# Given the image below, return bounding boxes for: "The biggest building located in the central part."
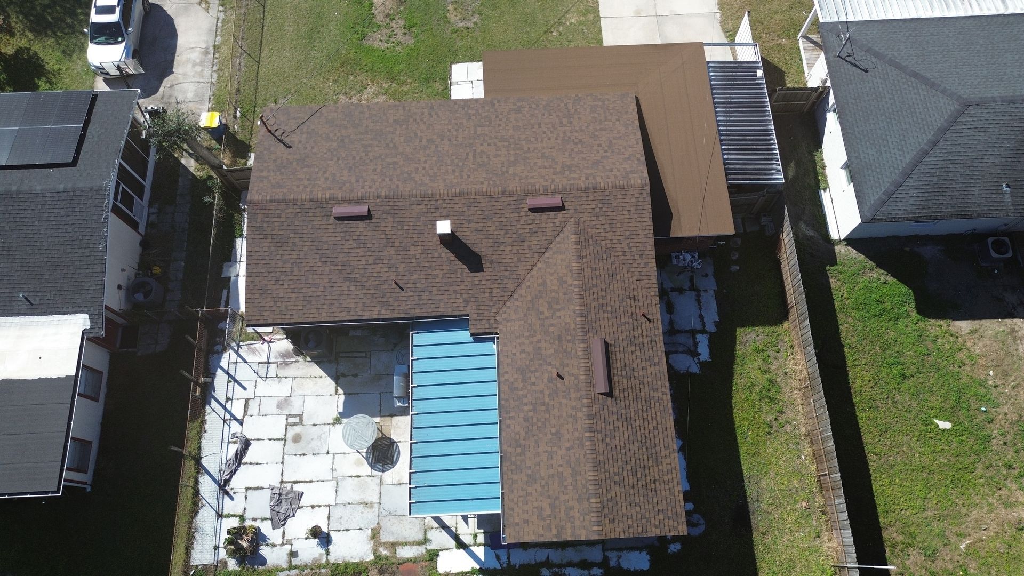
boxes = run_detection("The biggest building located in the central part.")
[245,46,732,542]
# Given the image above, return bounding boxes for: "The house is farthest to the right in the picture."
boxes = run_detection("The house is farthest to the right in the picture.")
[796,0,1024,240]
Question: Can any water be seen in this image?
No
